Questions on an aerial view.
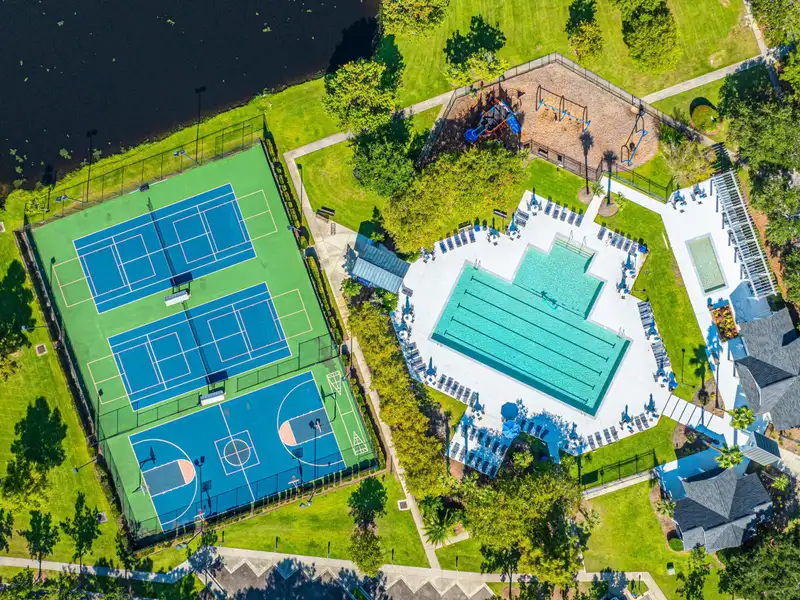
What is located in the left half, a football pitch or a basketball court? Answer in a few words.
basketball court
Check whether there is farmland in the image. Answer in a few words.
No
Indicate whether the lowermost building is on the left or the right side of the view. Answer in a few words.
right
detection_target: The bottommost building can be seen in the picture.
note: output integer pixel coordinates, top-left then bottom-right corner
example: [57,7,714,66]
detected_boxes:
[673,468,776,555]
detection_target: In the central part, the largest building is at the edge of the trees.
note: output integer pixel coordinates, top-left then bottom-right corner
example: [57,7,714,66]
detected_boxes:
[352,244,410,295]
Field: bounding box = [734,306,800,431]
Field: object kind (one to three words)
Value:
building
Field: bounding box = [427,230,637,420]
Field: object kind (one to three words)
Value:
swimming pool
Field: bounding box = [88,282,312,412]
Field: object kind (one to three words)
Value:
tennis court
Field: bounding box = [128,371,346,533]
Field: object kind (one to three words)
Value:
basketball court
